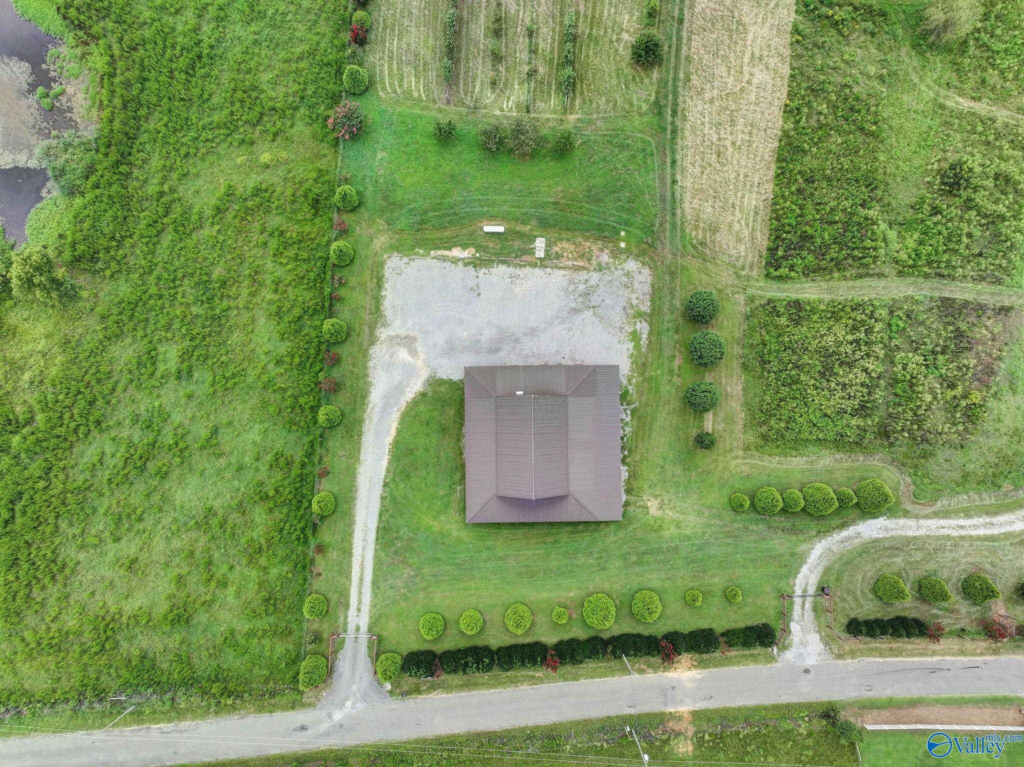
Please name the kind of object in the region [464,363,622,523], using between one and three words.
barn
